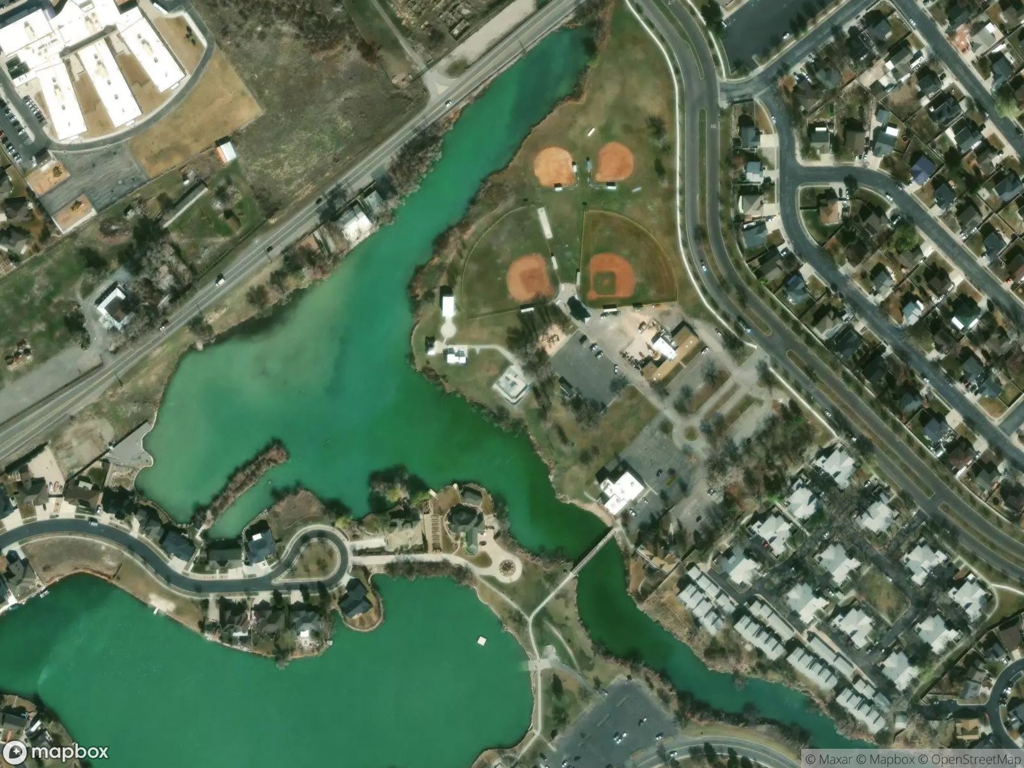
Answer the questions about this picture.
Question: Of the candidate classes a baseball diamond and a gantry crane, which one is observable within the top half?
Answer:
baseball diamond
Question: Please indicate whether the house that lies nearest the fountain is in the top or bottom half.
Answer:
bottom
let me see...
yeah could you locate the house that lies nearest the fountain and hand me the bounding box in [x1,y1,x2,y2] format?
[448,504,485,552]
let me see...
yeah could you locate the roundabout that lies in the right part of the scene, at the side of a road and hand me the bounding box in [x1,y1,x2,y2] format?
[673,415,709,451]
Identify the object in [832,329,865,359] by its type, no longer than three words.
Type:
house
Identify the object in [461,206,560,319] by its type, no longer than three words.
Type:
baseball field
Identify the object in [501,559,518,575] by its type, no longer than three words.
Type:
fountain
